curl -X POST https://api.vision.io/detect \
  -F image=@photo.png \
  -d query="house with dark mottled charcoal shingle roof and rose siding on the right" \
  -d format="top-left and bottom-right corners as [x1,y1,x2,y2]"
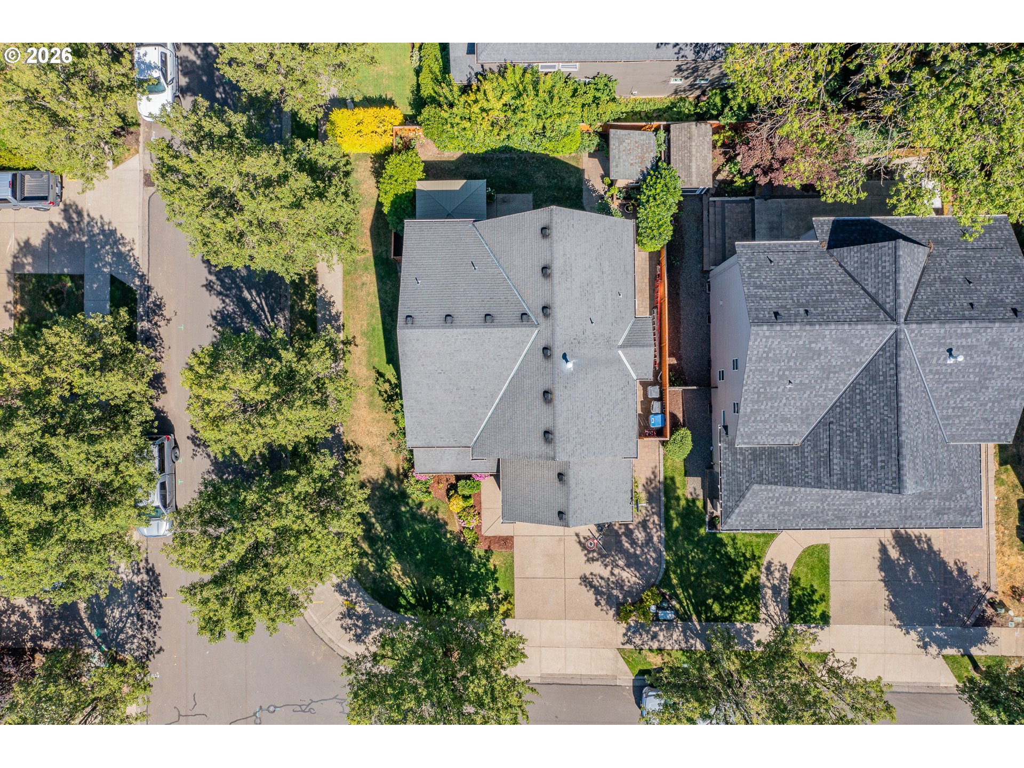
[705,212,1024,533]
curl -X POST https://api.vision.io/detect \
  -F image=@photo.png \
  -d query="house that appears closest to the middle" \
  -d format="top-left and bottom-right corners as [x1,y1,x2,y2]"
[397,204,655,527]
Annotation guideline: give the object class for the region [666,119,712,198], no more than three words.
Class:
shed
